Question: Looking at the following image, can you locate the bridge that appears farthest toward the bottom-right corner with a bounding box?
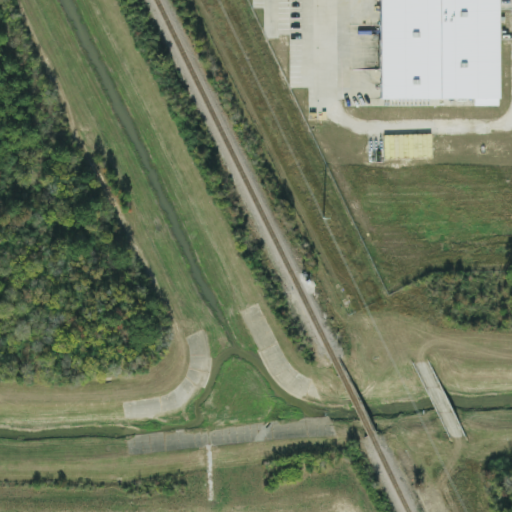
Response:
[414,356,464,442]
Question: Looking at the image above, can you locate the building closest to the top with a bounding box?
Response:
[381,0,503,106]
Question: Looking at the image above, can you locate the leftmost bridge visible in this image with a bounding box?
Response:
[328,353,377,440]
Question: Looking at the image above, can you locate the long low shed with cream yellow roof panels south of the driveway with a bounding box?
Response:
[385,134,432,160]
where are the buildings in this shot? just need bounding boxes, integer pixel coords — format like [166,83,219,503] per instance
[381,0,503,106]
[385,134,432,160]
